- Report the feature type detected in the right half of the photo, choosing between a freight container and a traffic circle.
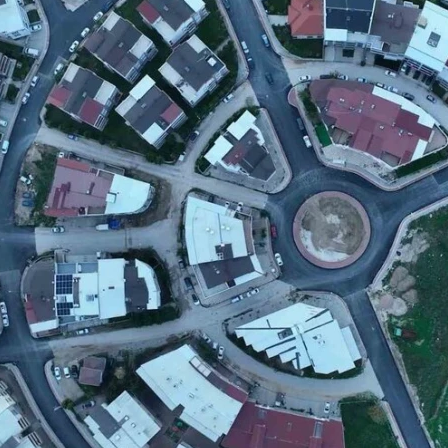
traffic circle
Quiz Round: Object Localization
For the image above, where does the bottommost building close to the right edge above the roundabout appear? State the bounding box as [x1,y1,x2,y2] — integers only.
[310,79,434,168]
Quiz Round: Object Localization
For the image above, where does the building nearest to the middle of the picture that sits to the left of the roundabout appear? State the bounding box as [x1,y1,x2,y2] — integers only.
[184,195,264,298]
